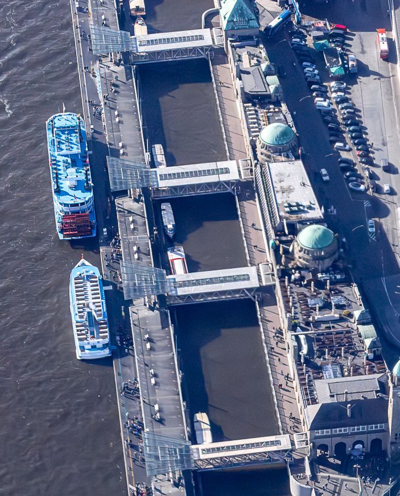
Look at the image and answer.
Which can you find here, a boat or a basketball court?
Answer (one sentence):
Of the two, only a boat appears.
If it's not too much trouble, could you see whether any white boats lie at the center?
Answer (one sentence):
Yes, a white boat shows up at the center.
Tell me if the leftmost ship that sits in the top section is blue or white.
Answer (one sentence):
The leftmost ship that sits in the top section is blue.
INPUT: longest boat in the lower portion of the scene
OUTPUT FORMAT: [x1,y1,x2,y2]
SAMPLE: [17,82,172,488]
[69,254,112,361]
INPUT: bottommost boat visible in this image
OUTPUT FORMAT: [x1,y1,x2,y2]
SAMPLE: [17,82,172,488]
[192,409,215,445]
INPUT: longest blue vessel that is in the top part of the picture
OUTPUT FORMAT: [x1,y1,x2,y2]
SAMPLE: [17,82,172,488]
[46,106,96,245]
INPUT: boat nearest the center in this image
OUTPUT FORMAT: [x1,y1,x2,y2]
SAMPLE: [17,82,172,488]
[166,245,189,275]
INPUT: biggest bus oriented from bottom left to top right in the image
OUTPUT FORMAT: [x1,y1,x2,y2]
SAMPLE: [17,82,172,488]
[260,9,289,35]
